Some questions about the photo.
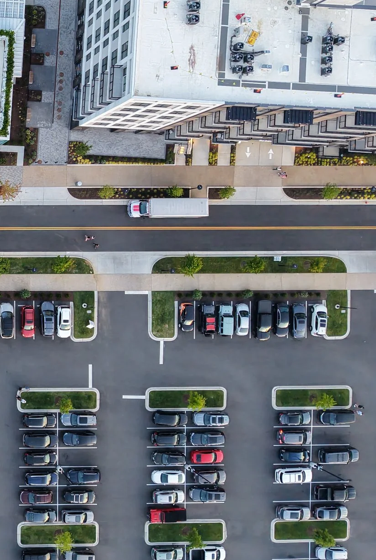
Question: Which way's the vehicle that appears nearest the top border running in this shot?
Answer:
from left to right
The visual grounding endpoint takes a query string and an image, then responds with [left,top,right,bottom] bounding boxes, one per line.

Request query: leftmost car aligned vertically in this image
[0,302,16,338]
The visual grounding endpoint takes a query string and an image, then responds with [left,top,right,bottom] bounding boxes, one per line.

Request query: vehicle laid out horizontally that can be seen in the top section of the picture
[122,197,209,218]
